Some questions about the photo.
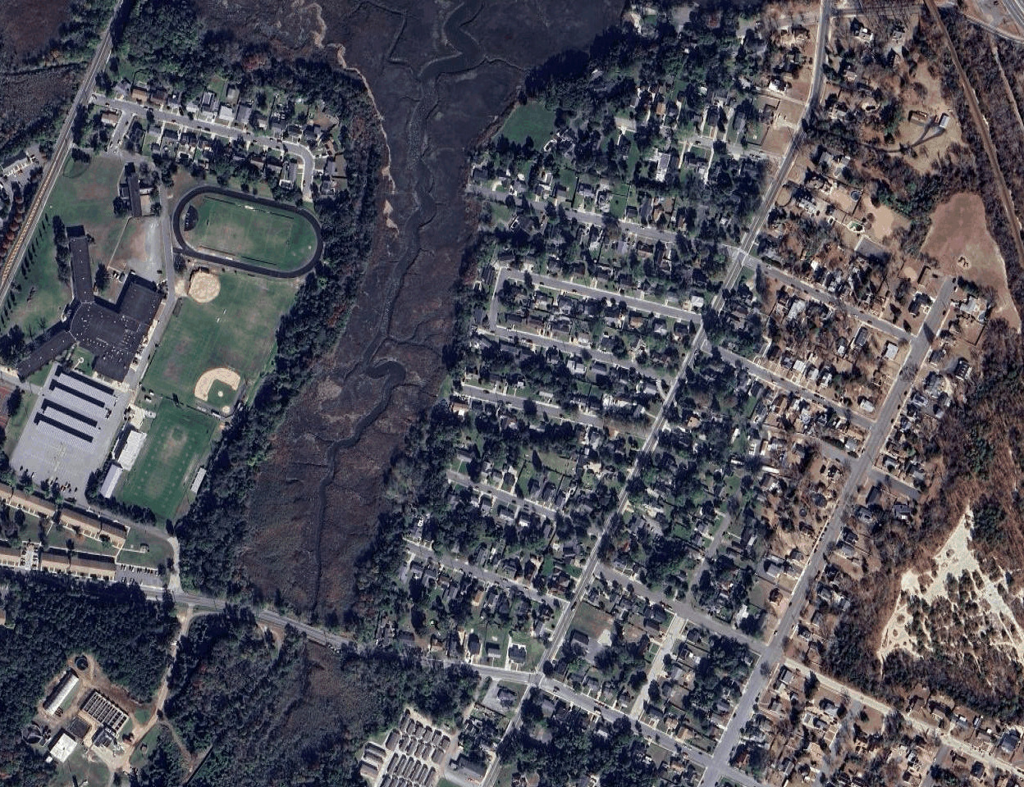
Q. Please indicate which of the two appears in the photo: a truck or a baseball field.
baseball field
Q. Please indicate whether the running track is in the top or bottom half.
top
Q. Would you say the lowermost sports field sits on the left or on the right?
left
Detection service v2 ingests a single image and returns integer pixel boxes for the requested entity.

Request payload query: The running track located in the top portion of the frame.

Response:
[172,183,324,280]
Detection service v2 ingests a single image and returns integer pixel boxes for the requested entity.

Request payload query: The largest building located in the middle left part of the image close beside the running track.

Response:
[66,282,162,381]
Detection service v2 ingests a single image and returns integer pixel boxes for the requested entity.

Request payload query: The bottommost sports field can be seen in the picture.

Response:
[115,396,218,521]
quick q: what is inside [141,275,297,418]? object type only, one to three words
baseball field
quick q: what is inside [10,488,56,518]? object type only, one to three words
building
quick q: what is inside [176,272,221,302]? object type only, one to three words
baseball field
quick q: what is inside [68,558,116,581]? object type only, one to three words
building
